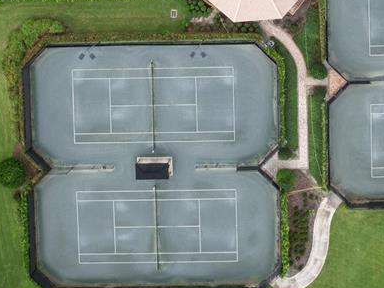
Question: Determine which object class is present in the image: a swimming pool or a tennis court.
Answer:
tennis court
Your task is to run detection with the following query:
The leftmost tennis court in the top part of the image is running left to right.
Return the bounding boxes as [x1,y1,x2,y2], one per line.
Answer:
[30,44,278,168]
